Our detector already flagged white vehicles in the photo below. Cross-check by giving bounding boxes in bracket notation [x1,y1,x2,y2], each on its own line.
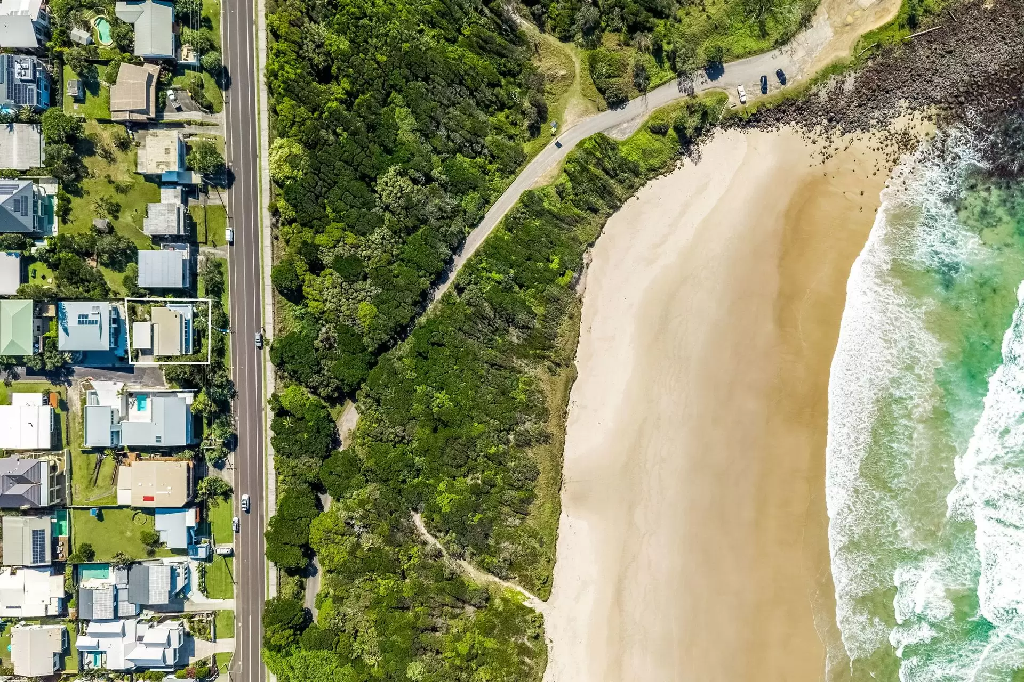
[214,547,233,554]
[737,85,746,102]
[232,517,239,532]
[226,227,233,242]
[241,495,249,510]
[168,91,180,108]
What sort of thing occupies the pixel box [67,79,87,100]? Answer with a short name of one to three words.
shed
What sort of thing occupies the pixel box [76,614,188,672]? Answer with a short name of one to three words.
house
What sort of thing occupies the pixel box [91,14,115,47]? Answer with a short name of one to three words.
swimming pool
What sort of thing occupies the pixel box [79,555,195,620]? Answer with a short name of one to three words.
house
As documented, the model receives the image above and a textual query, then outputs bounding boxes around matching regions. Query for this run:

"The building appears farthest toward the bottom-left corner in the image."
[11,623,72,677]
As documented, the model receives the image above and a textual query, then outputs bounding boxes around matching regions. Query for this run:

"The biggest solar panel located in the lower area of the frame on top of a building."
[32,530,45,564]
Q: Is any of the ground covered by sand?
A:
Yes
